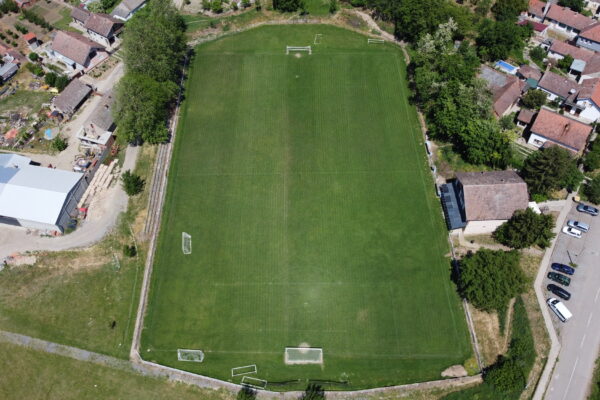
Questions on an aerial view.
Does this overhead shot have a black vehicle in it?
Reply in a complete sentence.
Yes, a black vehicle is visible in the scene.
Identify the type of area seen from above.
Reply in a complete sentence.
It's a sports ground.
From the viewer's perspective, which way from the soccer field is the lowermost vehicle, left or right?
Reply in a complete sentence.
You can see the lowermost vehicle positioned to the right of the soccer field.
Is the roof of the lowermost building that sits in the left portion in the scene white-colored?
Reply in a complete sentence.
Yes, the roof of the lowermost building that sits in the left portion appears white.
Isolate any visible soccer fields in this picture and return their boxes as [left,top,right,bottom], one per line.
[139,23,480,391]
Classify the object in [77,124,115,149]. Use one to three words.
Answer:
building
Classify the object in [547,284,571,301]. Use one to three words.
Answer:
car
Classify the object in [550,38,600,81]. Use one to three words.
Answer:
house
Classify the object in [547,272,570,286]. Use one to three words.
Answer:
vehicle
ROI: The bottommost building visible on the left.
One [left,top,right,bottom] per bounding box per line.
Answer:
[0,160,91,237]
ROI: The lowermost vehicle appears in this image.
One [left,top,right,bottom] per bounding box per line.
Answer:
[545,299,575,323]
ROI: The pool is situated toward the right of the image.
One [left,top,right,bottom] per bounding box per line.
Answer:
[495,60,520,76]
